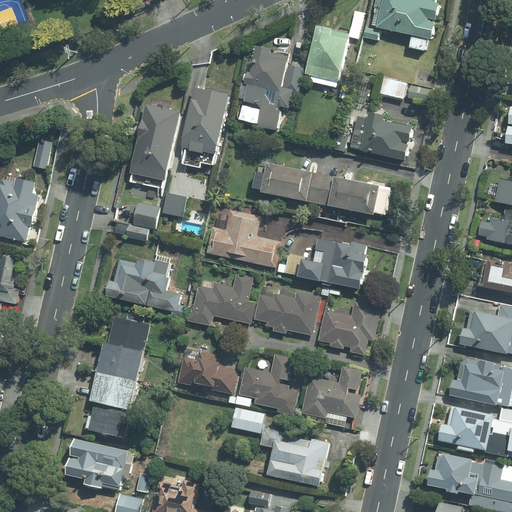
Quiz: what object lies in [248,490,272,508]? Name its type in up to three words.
building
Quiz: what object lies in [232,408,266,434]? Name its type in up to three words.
shed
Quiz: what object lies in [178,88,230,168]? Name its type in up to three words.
house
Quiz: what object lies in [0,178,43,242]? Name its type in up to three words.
house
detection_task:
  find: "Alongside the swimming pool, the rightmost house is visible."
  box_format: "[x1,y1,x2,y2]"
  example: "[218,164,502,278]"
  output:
[206,209,282,268]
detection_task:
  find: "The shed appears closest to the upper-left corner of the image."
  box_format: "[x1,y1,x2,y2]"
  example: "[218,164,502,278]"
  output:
[32,141,52,169]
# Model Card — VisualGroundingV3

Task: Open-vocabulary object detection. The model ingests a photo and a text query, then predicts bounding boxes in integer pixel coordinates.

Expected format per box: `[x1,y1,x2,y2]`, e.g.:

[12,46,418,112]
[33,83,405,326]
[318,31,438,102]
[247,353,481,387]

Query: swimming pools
[179,220,204,236]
